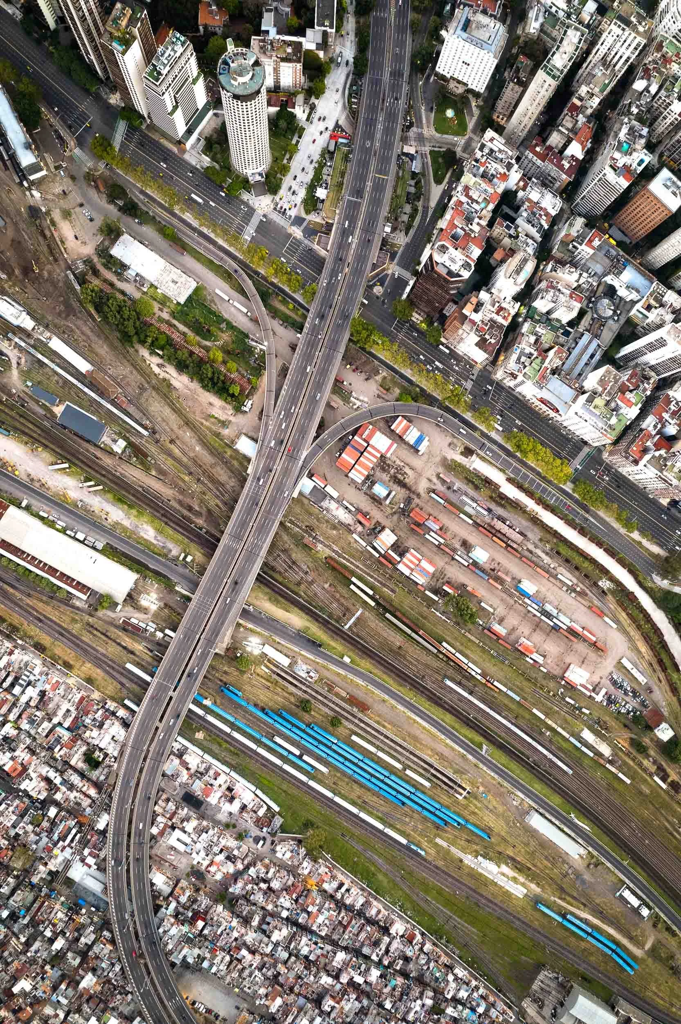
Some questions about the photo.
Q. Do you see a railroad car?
Yes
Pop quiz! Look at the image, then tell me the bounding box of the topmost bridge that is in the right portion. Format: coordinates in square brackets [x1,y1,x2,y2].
[298,402,586,524]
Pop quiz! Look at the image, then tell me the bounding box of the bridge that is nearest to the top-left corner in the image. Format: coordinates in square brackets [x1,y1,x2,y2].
[136,194,276,453]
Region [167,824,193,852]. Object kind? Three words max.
building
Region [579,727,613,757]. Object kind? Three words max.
shed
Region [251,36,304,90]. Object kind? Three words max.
building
